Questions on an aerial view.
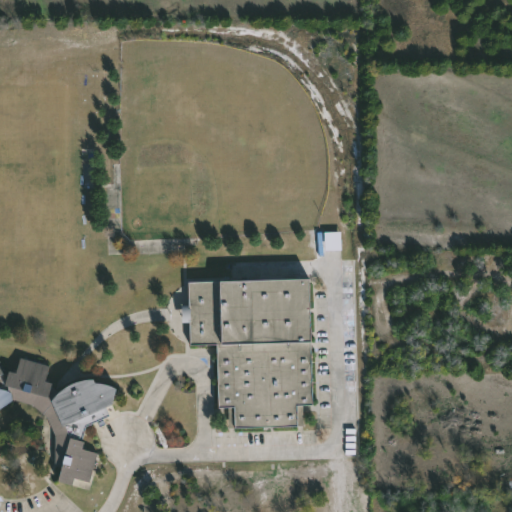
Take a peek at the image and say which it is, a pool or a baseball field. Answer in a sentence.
I can see a baseball field in this picture.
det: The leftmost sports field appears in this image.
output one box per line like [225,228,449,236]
[0,82,67,324]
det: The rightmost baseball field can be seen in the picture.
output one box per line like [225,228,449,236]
[121,41,328,238]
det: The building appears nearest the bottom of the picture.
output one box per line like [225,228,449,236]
[59,439,97,490]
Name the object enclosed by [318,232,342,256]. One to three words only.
shed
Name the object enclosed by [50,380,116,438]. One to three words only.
building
